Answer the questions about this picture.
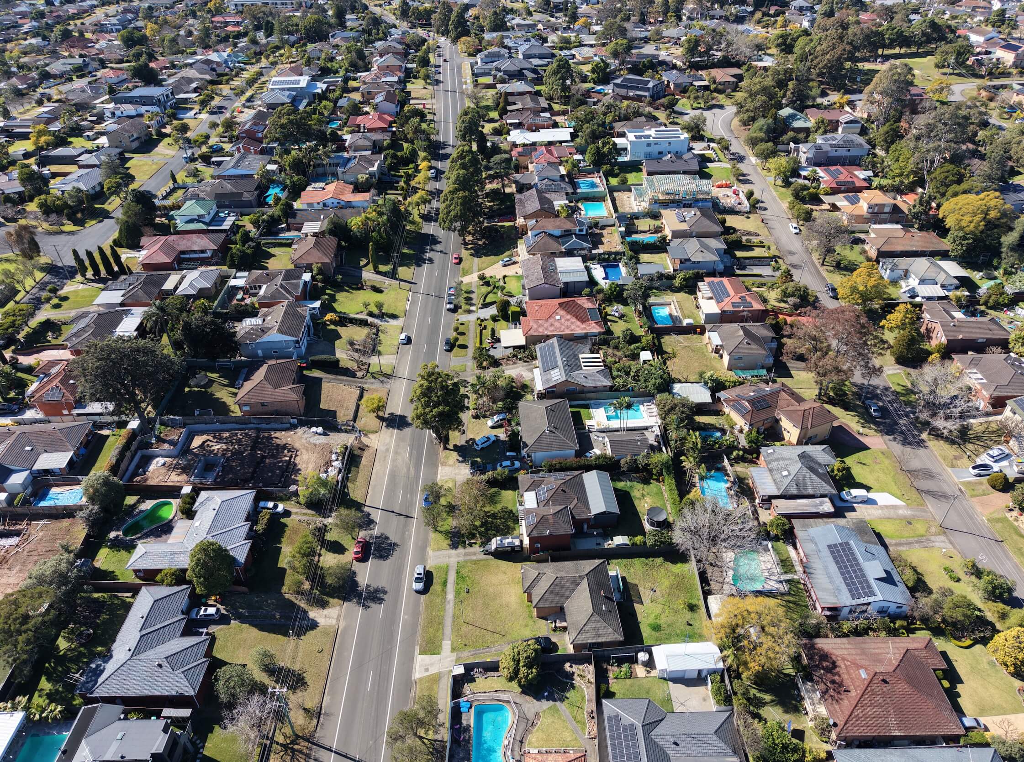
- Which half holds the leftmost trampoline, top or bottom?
bottom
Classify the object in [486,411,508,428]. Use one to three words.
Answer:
car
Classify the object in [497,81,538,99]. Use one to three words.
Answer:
house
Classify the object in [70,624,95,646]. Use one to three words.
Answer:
trampoline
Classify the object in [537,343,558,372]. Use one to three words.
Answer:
solar array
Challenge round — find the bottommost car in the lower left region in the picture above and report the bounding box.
[188,605,223,624]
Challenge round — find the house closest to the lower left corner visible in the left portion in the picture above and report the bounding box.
[58,702,173,762]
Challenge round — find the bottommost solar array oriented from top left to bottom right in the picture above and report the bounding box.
[830,541,877,599]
